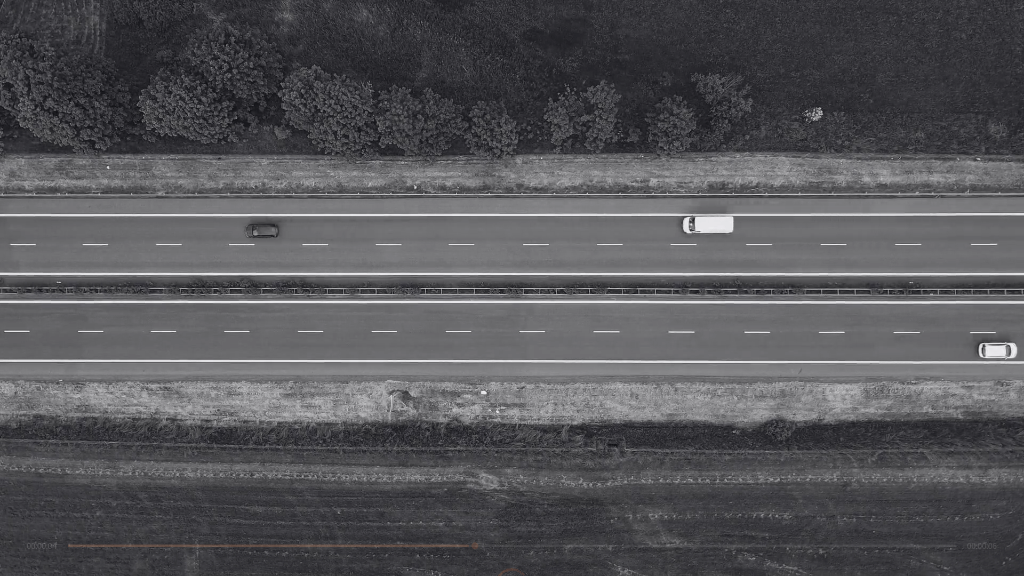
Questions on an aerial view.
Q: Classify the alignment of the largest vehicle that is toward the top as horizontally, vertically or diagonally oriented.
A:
horizontally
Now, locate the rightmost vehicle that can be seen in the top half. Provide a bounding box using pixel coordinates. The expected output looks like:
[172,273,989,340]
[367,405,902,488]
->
[682,214,733,236]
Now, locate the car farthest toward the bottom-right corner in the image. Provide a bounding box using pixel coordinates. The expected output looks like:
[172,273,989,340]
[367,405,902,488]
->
[977,342,1017,360]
